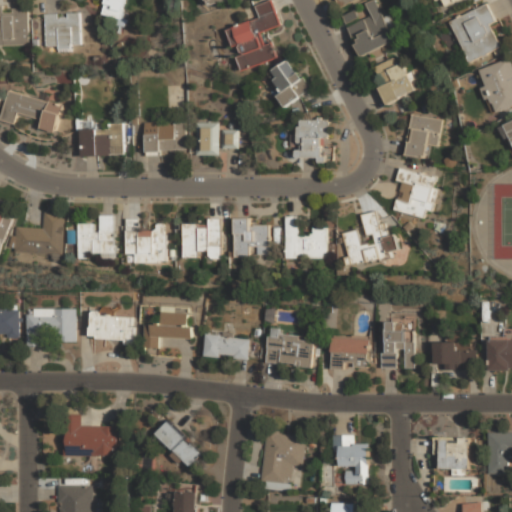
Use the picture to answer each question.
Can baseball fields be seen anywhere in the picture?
No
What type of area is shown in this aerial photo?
residential area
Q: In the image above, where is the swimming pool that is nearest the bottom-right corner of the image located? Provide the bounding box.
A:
[444,477,479,492]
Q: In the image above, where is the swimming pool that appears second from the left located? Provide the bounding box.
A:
[355,311,370,336]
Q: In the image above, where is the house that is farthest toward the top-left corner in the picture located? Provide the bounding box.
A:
[0,12,30,46]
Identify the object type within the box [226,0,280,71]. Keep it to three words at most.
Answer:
house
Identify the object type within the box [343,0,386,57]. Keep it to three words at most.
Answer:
house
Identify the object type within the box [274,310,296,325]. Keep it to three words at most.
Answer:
swimming pool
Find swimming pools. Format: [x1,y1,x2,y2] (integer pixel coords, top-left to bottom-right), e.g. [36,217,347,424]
[355,311,370,336]
[444,477,479,492]
[274,310,296,325]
